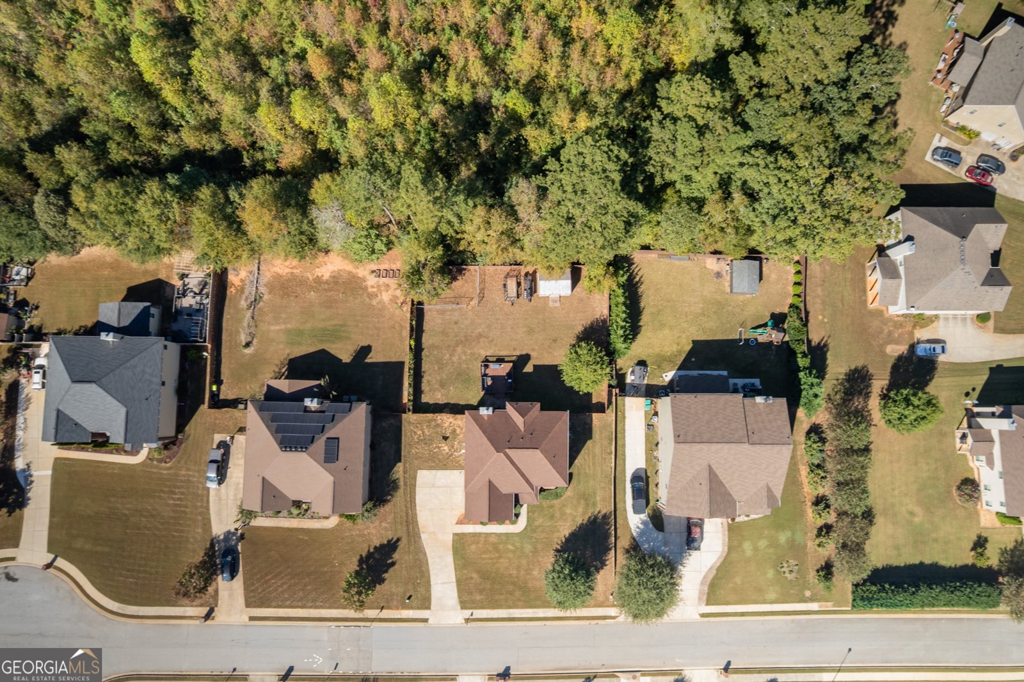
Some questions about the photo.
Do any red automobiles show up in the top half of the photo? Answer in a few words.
Yes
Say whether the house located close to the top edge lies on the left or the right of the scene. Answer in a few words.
right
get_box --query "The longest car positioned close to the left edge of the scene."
[31,356,48,388]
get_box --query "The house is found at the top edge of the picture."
[943,13,1024,132]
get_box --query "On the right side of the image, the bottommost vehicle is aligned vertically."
[687,516,703,551]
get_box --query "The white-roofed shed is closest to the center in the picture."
[539,267,571,306]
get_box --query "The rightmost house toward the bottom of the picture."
[953,405,1024,517]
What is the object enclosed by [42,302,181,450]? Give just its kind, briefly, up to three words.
house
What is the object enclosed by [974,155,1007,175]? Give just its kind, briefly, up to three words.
car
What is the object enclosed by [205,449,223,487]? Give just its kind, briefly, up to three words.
vehicle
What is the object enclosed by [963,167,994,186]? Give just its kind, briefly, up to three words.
car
